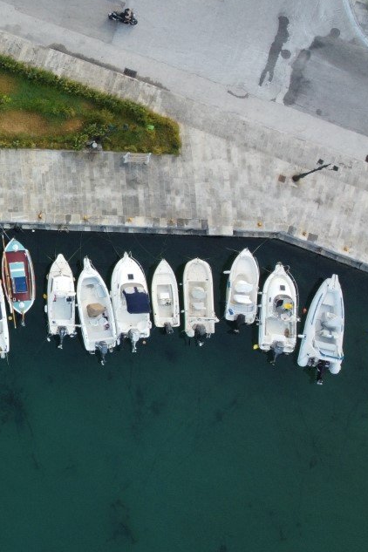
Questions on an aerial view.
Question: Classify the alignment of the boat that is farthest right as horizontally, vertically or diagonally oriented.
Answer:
vertically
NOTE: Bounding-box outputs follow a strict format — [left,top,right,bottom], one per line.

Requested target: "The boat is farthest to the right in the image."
[297,277,346,378]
